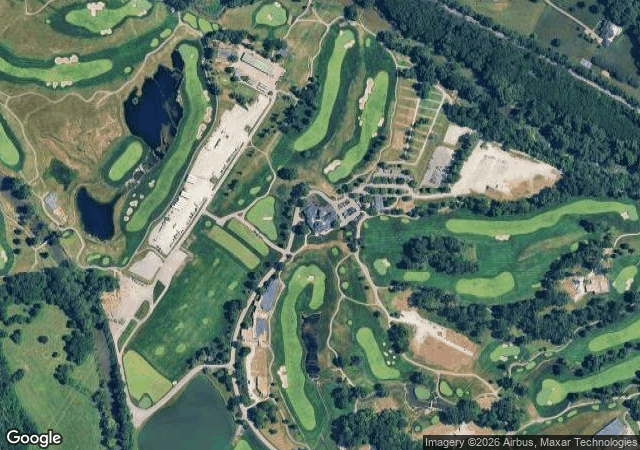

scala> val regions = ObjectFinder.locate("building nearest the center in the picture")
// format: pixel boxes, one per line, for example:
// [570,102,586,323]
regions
[306,195,338,235]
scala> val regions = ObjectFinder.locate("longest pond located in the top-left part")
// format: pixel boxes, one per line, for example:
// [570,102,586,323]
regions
[122,49,183,153]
